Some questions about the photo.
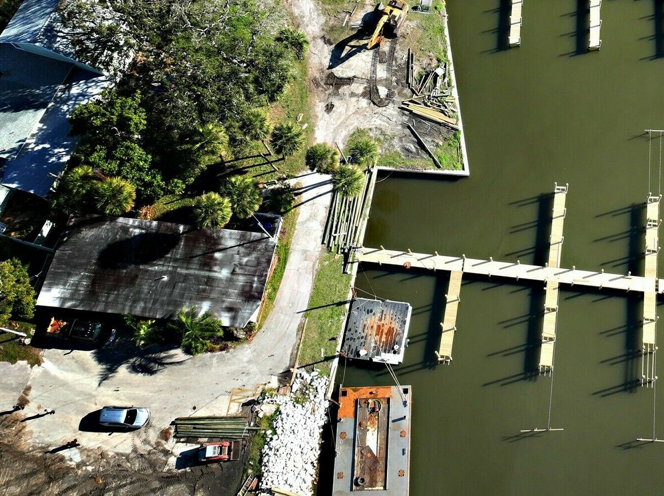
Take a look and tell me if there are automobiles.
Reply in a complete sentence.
Yes, the frame does contain an automobile.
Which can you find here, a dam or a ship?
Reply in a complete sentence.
The one in the frame is a ship.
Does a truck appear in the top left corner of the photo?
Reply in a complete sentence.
No, I see no truck in the top left corner of the photo.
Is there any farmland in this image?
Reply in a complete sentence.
No, there is no farmland in the image.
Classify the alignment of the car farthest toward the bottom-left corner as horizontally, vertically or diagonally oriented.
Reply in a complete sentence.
The car farthest toward the bottom-left corner runs horizontally in the image.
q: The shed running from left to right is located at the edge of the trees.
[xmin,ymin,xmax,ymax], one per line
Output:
[36,215,276,331]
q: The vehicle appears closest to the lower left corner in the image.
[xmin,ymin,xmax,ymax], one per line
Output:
[94,405,149,432]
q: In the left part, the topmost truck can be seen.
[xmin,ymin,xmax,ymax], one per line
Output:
[44,317,112,347]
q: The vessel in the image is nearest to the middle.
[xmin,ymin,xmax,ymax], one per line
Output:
[341,298,412,366]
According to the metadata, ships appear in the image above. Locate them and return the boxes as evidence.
[341,298,412,366]
[331,386,412,496]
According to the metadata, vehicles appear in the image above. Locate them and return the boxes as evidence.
[198,440,241,463]
[367,0,414,53]
[94,405,149,432]
[44,317,112,347]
